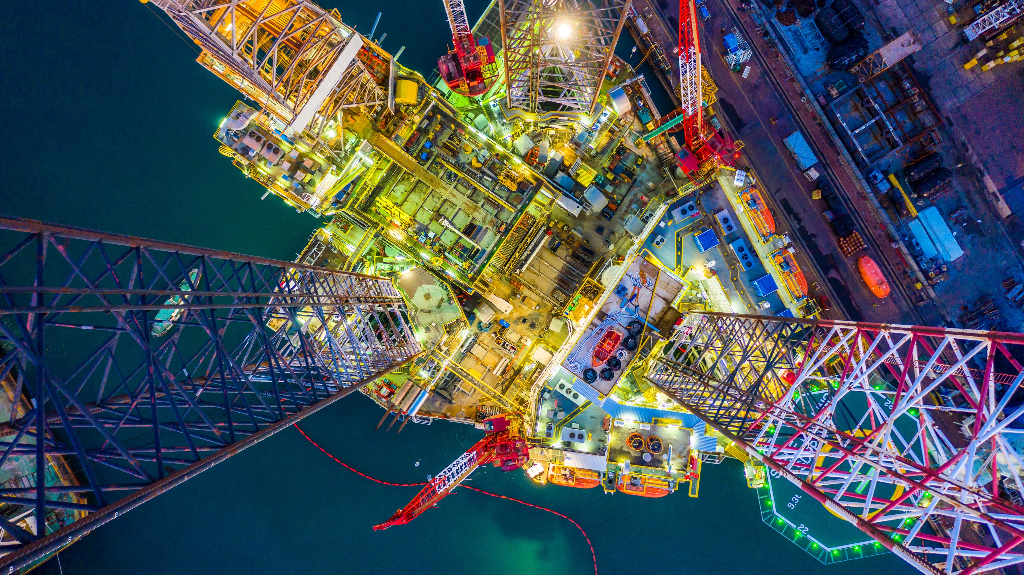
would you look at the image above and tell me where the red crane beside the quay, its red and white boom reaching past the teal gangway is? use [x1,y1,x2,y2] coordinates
[661,0,745,192]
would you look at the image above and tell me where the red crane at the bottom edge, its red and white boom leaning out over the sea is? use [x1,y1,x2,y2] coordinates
[369,411,529,534]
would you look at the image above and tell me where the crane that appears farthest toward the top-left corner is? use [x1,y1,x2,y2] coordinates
[437,0,500,100]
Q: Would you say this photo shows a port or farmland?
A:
port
